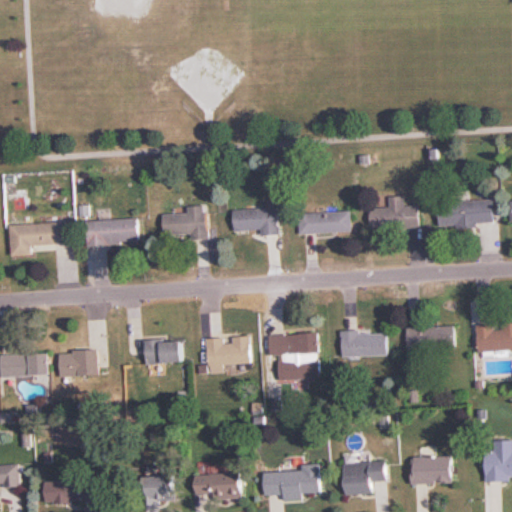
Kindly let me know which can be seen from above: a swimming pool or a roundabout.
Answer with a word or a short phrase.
swimming pool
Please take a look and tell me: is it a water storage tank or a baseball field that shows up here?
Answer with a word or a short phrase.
baseball field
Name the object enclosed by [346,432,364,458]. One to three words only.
swimming pool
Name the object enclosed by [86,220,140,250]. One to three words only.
house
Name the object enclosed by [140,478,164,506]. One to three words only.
house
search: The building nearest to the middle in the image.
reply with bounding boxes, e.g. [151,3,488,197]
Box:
[232,208,280,236]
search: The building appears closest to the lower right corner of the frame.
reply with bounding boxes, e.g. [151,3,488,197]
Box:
[483,440,512,484]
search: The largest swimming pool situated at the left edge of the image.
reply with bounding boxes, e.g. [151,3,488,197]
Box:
[18,380,46,402]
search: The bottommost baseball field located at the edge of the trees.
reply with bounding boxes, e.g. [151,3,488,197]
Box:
[170,47,244,144]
